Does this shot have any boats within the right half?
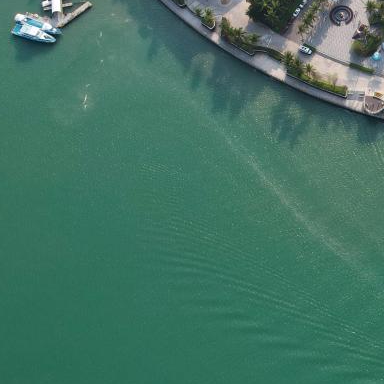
No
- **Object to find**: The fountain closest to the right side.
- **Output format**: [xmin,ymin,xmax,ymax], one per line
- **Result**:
[329,3,354,24]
